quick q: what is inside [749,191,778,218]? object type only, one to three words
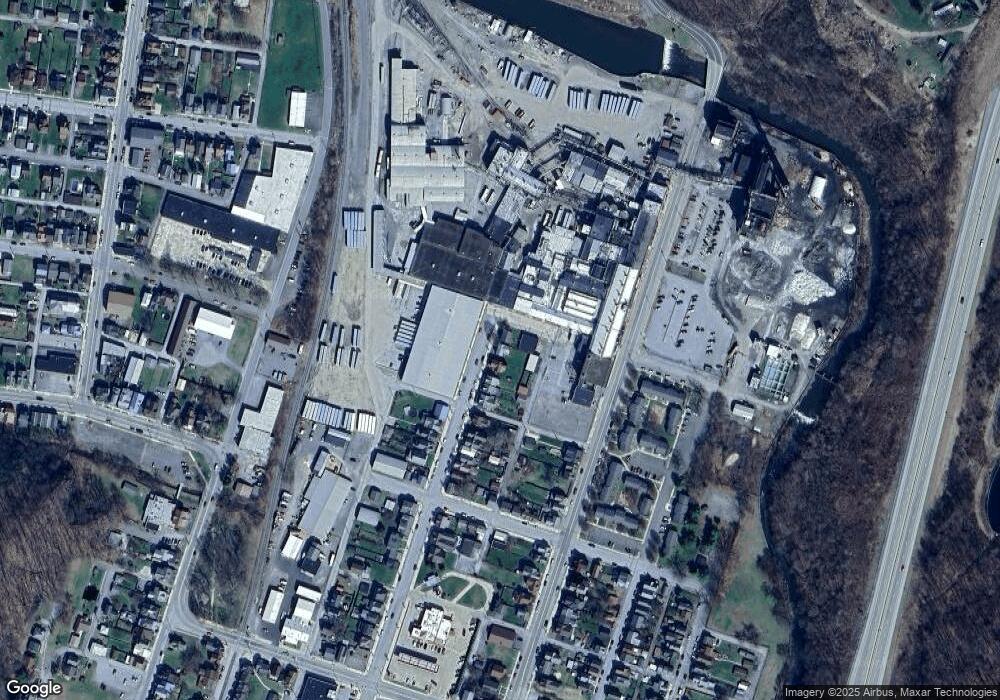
building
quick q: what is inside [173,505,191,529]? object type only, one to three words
house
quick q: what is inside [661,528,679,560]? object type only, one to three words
building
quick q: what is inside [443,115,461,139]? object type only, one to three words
shed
